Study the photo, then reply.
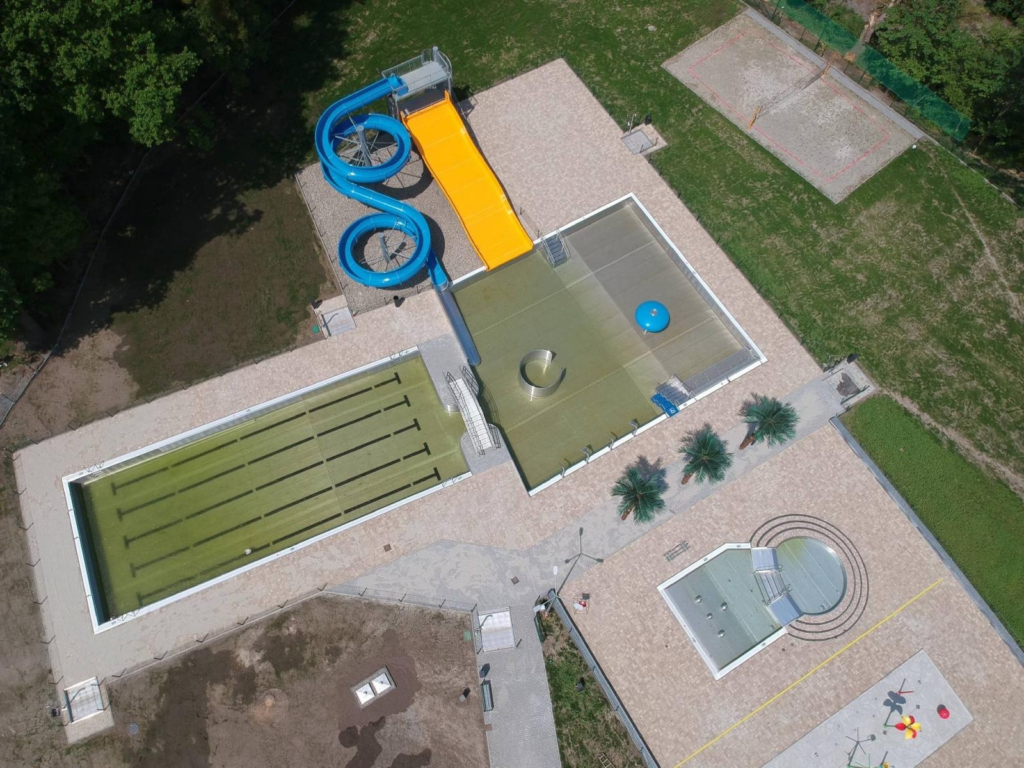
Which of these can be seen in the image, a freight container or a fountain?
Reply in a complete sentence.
The image shows a fountain.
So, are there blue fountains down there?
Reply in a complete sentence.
Yes, you can see a blue fountain in this photo.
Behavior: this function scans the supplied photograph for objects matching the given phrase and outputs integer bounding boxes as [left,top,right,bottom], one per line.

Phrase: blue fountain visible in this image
[634,302,670,343]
